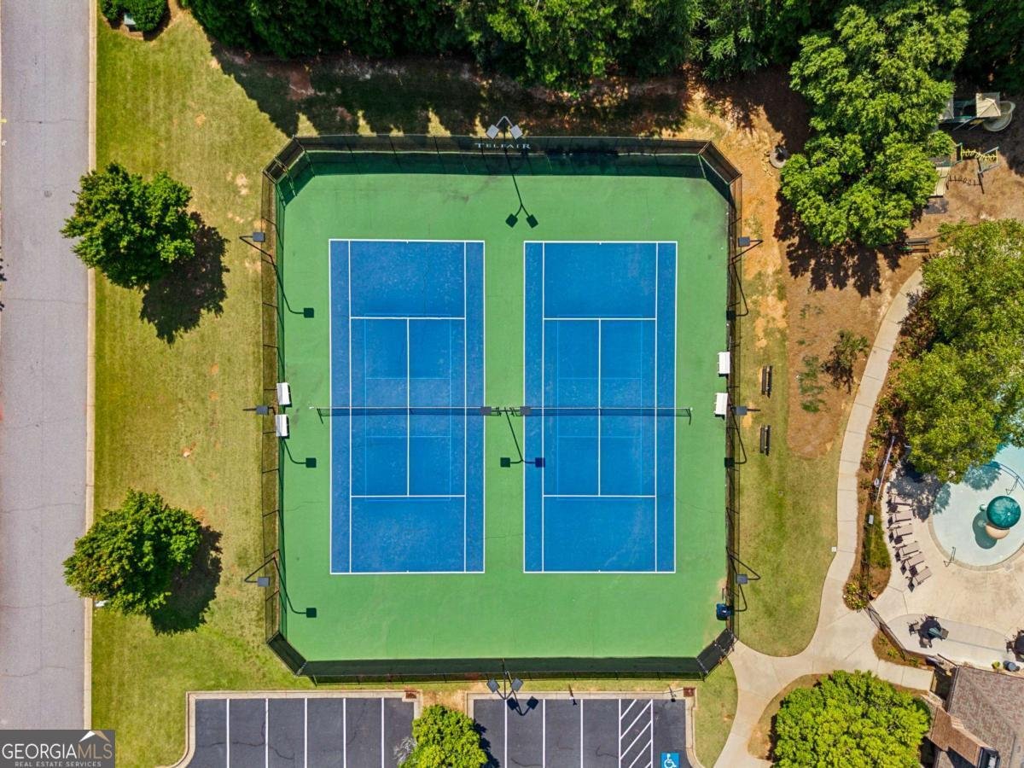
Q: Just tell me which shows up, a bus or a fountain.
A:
fountain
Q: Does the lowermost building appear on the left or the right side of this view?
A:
right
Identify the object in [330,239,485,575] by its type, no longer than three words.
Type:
tennis court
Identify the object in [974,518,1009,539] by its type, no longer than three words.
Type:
fountain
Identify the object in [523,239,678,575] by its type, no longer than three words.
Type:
tennis court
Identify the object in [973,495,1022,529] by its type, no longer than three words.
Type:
fountain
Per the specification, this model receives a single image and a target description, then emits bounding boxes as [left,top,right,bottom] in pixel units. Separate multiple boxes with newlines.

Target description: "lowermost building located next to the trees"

[904,664,1024,768]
